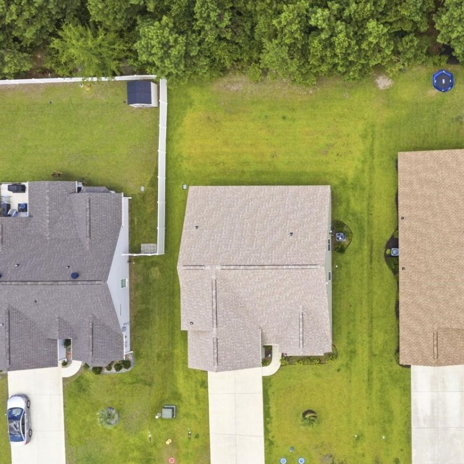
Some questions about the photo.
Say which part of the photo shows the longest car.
bottom left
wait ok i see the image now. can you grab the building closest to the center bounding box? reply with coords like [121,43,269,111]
[178,187,333,373]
